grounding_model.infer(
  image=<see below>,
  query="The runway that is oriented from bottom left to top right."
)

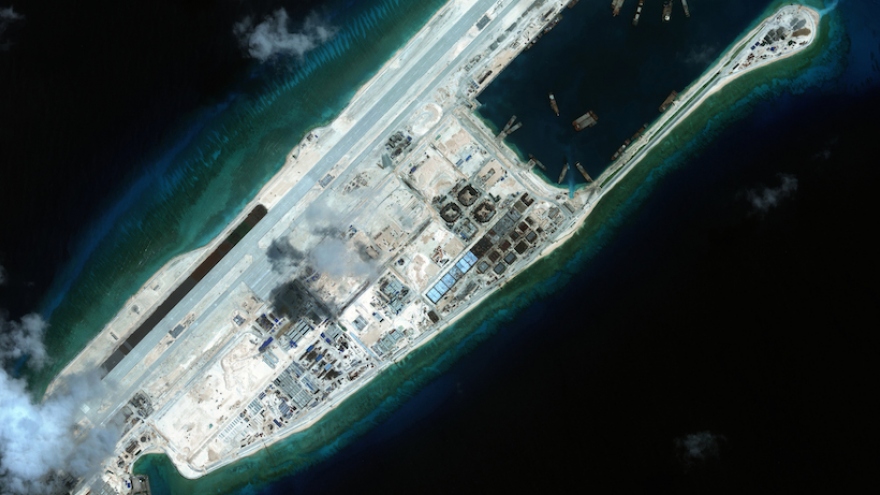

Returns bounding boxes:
[54,0,498,435]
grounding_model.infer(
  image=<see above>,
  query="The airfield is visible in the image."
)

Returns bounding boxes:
[54,0,522,442]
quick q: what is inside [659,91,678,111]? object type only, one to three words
ship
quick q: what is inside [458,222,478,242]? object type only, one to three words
building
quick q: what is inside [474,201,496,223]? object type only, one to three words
building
